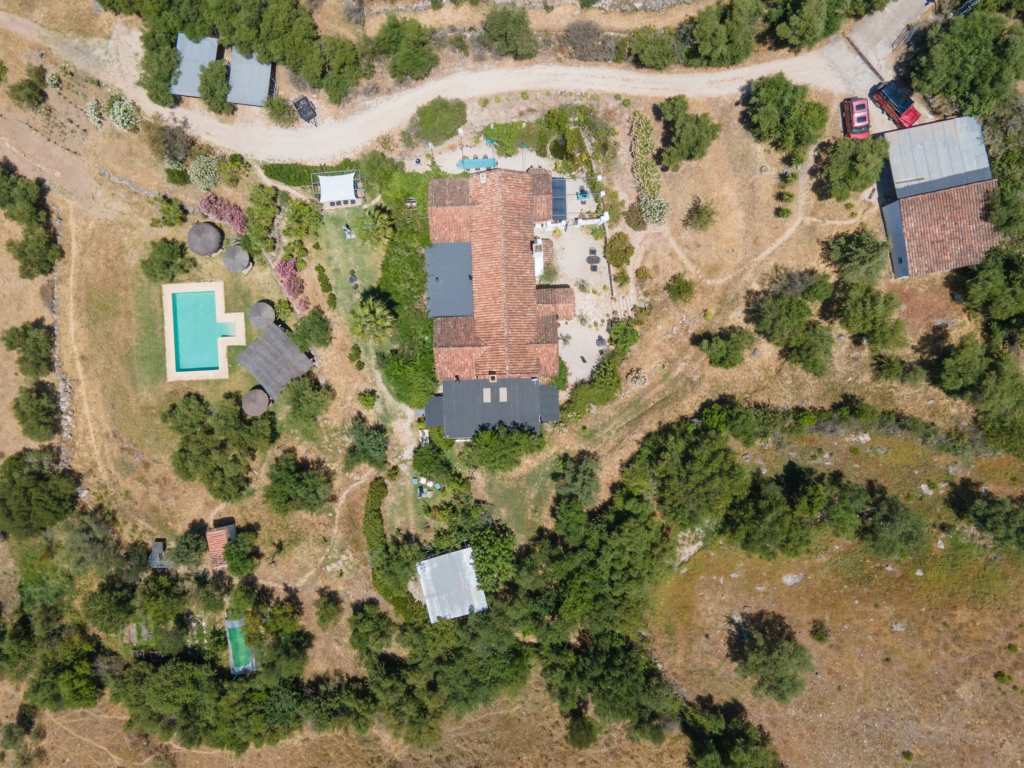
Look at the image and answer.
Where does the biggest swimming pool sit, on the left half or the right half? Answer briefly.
left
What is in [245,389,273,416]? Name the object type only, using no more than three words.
umbrella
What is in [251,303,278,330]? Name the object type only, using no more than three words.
umbrella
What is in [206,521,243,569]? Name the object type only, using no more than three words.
shed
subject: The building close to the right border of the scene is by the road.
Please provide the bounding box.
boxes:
[871,115,1006,280]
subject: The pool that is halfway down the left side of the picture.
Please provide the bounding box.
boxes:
[162,281,246,382]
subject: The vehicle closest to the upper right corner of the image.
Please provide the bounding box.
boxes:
[877,81,917,127]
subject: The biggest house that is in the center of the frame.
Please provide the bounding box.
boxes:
[425,168,576,440]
